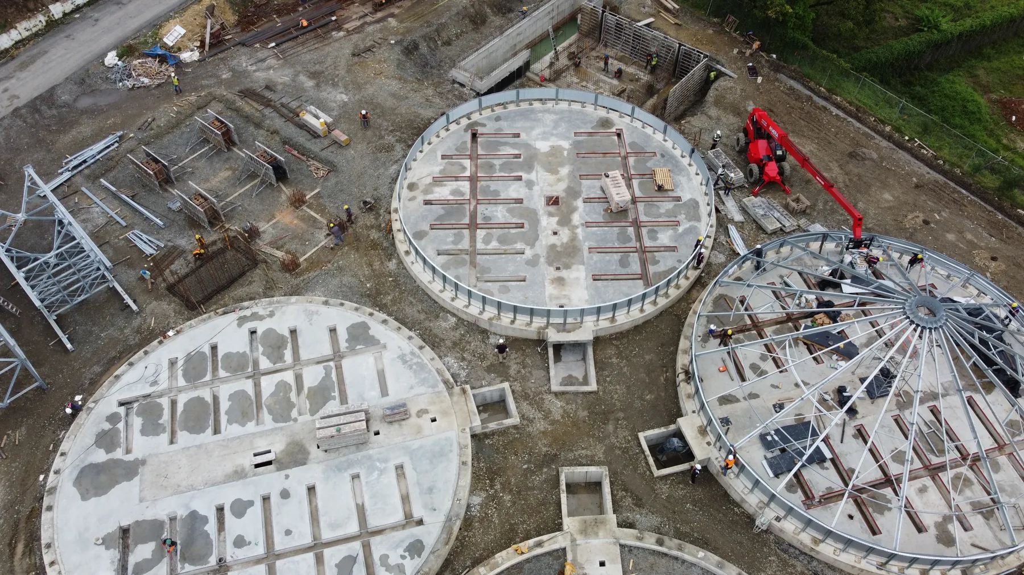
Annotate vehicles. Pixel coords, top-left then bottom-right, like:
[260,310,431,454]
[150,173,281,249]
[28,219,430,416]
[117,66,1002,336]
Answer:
[728,104,875,270]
